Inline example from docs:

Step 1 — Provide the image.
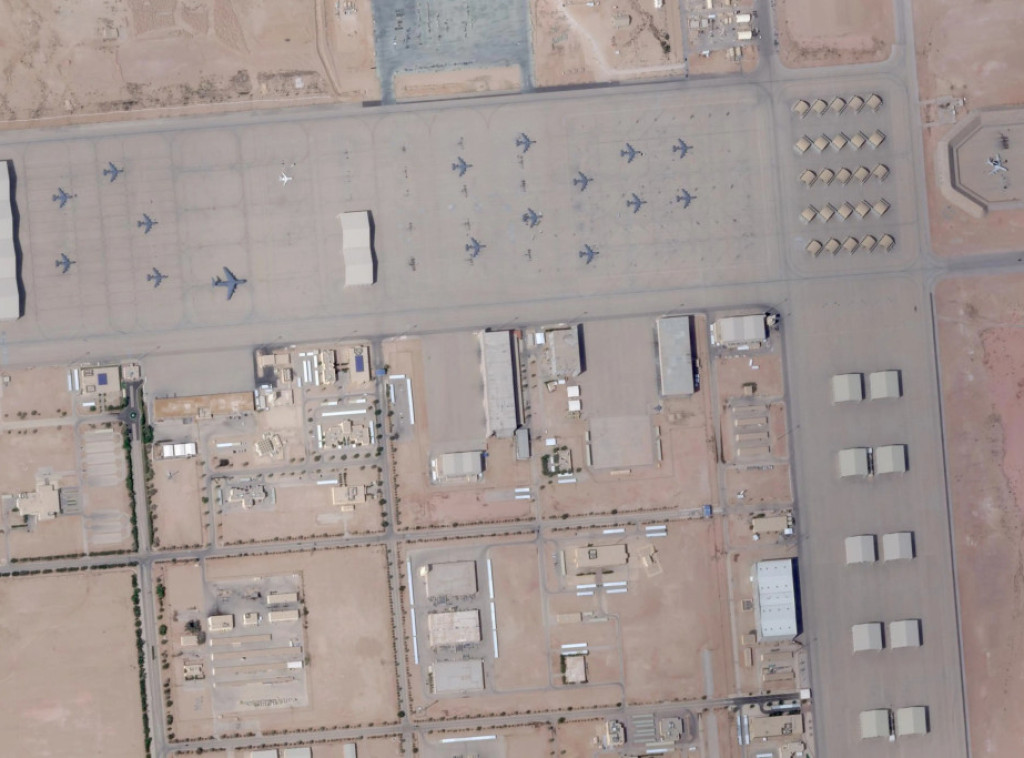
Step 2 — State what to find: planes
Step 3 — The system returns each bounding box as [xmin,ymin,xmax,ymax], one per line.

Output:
[52,188,72,207]
[465,237,485,256]
[522,207,542,227]
[988,155,1007,173]
[626,193,647,213]
[103,162,123,181]
[451,157,472,176]
[279,172,292,186]
[579,244,599,263]
[147,267,167,287]
[55,253,75,273]
[137,214,157,233]
[672,139,692,159]
[620,143,641,163]
[676,188,696,208]
[515,133,536,152]
[572,171,592,191]
[210,267,247,301]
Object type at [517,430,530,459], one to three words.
shed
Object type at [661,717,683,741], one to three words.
building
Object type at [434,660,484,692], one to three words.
building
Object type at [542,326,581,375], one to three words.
hangar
